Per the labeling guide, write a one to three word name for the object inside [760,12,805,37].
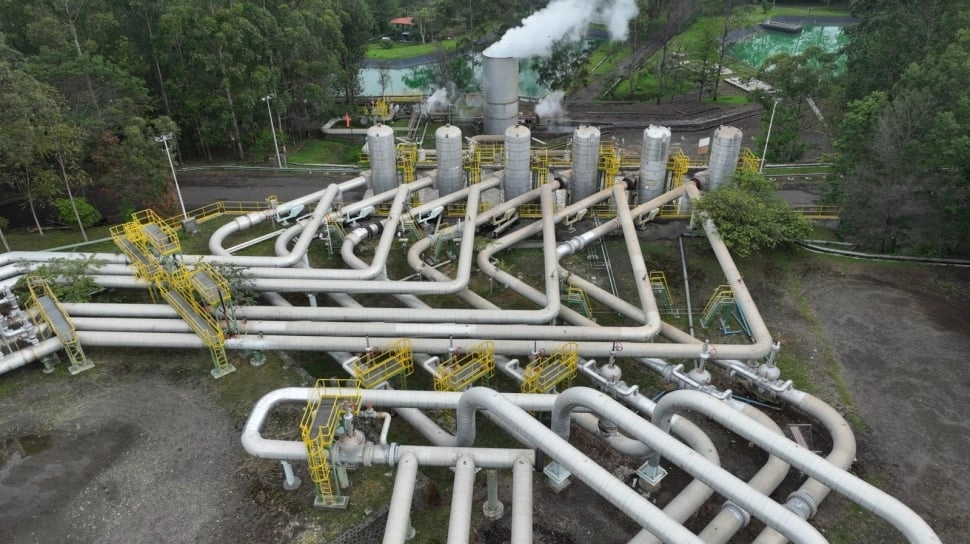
pier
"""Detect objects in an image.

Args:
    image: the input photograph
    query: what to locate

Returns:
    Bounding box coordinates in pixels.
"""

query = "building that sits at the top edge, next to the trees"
[385,11,417,39]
